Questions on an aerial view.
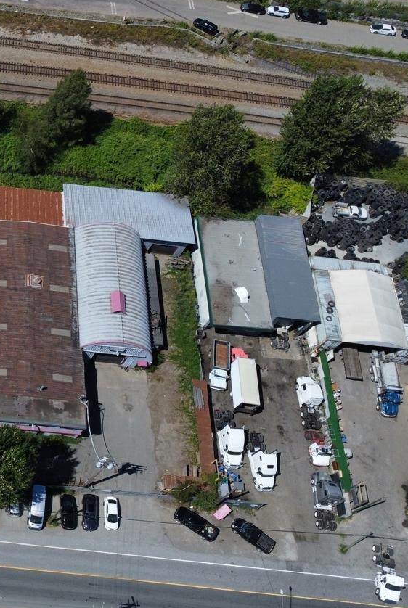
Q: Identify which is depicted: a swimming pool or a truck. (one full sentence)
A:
There is a truck in the scene.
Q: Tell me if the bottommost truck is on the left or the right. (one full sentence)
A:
The bottommost truck sits on the right side.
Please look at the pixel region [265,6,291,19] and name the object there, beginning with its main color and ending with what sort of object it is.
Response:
white vehicle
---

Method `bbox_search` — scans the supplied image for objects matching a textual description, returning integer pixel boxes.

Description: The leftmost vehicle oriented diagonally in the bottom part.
[171,505,223,546]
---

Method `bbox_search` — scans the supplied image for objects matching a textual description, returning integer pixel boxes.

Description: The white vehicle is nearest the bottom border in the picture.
[369,542,408,607]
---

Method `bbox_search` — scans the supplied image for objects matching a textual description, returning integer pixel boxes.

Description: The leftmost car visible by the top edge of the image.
[194,19,219,35]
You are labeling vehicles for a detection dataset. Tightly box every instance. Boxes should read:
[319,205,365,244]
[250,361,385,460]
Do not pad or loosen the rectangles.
[400,29,408,40]
[300,429,333,471]
[240,0,265,16]
[80,493,100,533]
[330,205,369,222]
[171,505,223,546]
[27,481,50,533]
[294,373,328,431]
[368,23,397,36]
[207,336,232,396]
[102,496,121,534]
[295,8,328,25]
[60,493,78,531]
[308,470,343,533]
[369,345,405,423]
[194,19,219,35]
[231,346,273,420]
[227,516,280,559]
[369,542,408,607]
[246,432,280,495]
[265,6,291,19]
[7,489,25,522]
[212,408,248,474]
